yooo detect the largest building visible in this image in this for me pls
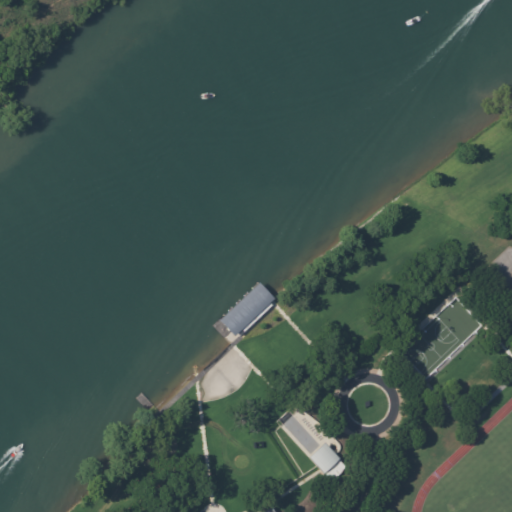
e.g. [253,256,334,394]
[214,282,276,343]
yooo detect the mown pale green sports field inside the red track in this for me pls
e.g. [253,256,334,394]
[422,410,512,512]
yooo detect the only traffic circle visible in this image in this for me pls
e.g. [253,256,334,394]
[340,373,399,432]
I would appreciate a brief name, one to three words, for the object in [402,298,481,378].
basketball court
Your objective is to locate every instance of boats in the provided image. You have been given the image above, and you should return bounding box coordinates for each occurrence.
[12,448,22,460]
[404,16,421,26]
[200,93,216,100]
